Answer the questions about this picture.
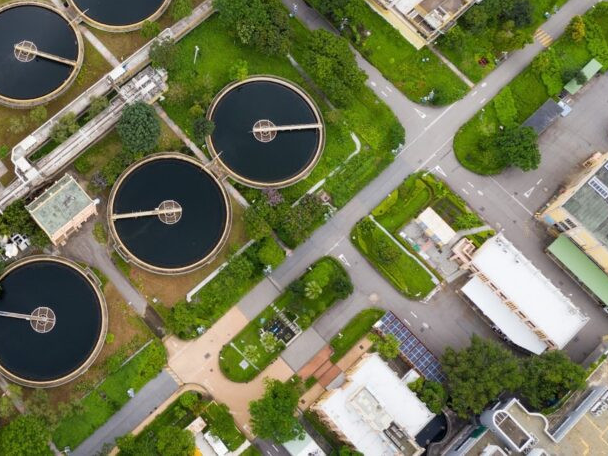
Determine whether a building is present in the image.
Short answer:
Yes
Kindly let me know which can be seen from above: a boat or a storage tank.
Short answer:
storage tank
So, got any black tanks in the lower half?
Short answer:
Yes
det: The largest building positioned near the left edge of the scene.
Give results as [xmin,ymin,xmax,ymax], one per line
[24,170,95,240]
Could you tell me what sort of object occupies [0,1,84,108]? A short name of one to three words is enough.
storage tank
